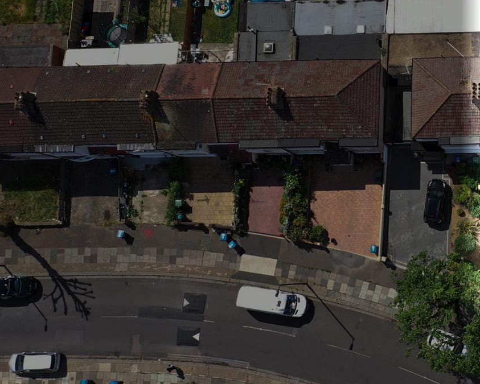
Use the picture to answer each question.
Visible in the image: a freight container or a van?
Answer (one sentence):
Visible in the photo is a van.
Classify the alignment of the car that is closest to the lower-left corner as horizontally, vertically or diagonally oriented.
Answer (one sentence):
The car that is closest to the lower-left corner runs horizontally in the image.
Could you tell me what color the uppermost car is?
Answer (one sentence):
In this view, the uppermost car is black.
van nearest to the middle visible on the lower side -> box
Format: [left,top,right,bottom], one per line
[231,284,309,322]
